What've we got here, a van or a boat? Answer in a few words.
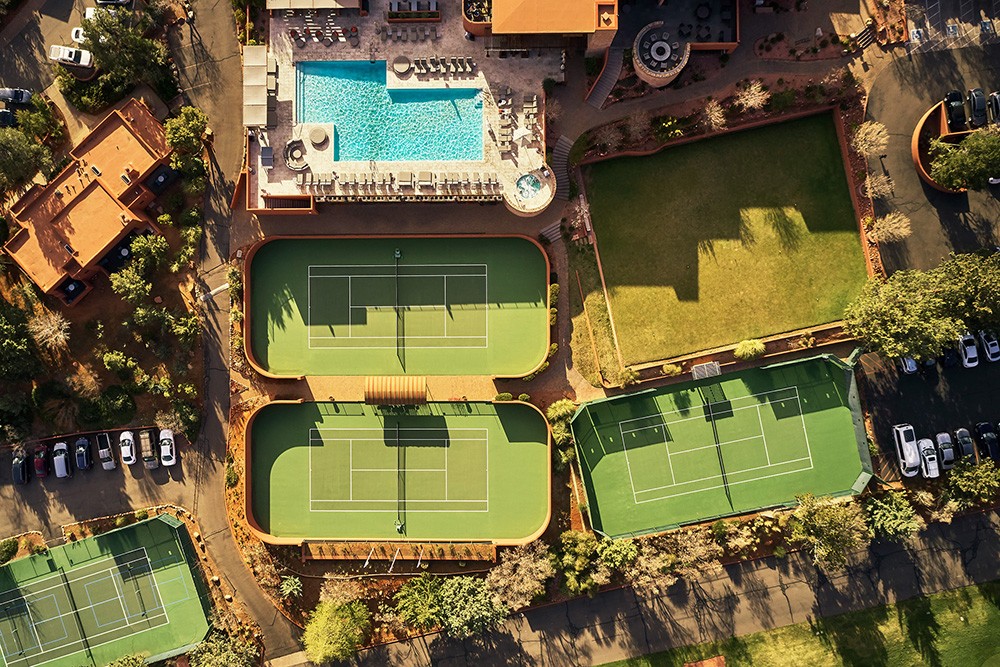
van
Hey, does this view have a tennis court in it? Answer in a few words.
Yes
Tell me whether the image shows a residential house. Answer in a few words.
Yes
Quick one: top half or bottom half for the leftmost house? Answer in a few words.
top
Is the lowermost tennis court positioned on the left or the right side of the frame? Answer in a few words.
left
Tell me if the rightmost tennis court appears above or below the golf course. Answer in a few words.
above it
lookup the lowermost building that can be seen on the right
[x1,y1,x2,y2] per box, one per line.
[688,358,722,381]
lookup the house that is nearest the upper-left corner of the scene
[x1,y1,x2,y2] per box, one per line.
[6,98,181,307]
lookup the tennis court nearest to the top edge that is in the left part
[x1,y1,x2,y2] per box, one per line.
[252,243,548,376]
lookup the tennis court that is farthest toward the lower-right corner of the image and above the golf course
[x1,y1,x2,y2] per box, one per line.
[572,356,859,530]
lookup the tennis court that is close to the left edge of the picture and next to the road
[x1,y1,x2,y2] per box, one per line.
[0,512,207,667]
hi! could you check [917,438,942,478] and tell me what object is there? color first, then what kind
white car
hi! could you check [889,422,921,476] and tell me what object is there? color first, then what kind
white van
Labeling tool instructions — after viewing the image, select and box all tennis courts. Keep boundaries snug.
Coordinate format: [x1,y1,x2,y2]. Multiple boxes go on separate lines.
[0,512,207,667]
[252,243,548,376]
[572,356,859,530]
[252,402,548,540]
